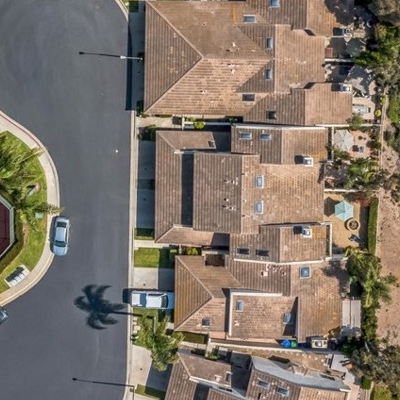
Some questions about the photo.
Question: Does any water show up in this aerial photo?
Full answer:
No, water can't be seen anywhere here.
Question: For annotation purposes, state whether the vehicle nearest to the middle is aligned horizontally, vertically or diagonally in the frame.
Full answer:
What the image shows is the vehicle nearest to the middle lying horizontally.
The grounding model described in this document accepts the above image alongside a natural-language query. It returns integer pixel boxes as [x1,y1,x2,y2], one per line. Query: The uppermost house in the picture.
[144,0,353,124]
